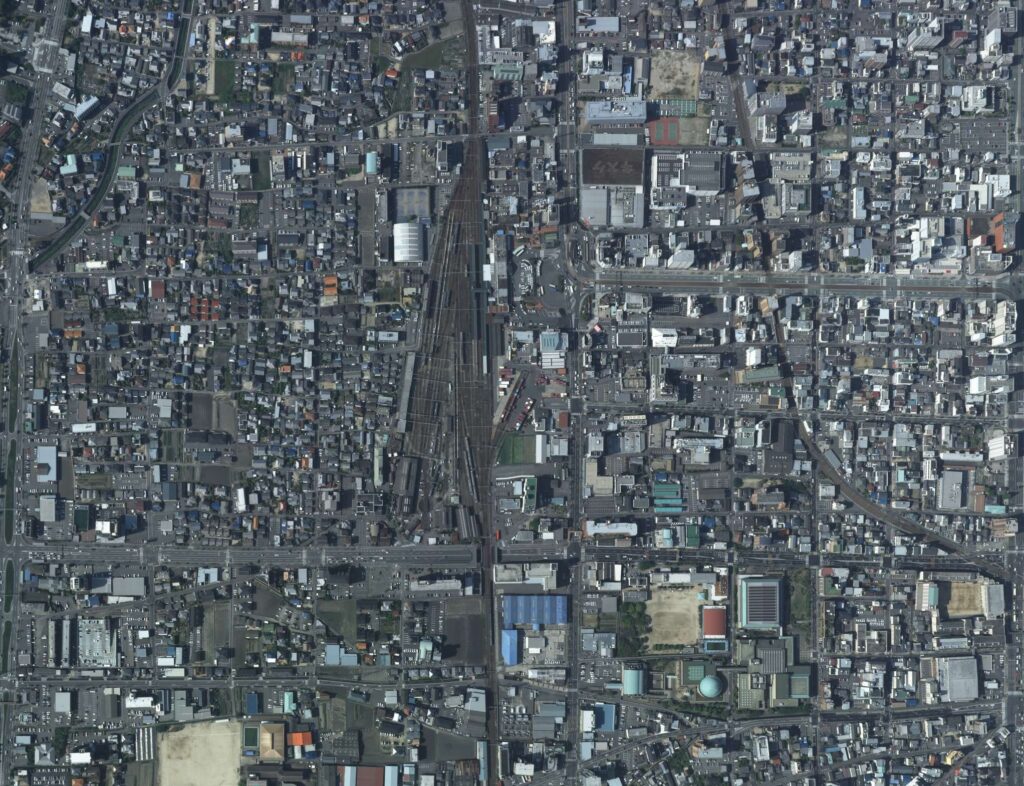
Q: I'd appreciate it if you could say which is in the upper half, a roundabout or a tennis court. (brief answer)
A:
tennis court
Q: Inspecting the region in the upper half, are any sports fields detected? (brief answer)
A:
Yes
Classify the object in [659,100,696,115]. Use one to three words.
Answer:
sports court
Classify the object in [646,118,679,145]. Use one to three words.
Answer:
tennis court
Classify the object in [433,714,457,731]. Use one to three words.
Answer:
house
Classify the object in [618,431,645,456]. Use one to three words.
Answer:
building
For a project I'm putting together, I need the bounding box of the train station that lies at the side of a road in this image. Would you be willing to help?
[461,165,509,397]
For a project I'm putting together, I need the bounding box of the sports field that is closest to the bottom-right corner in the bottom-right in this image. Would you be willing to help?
[939,584,977,618]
